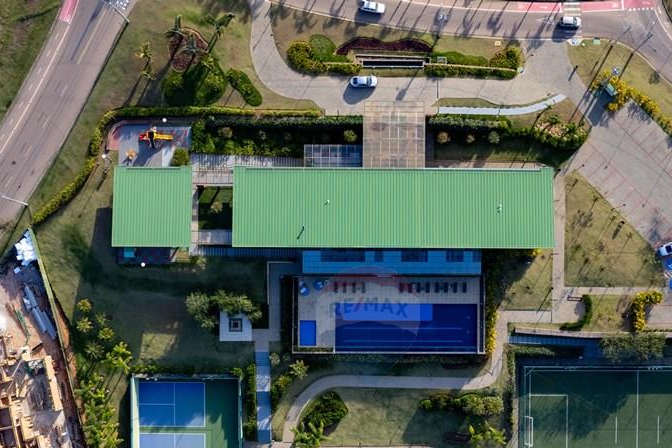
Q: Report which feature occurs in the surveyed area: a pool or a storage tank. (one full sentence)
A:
I can see a pool in this picture.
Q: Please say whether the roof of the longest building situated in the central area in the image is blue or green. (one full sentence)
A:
The roof of the longest building situated in the central area looks green in the image.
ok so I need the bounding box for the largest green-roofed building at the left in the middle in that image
[111,166,194,249]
